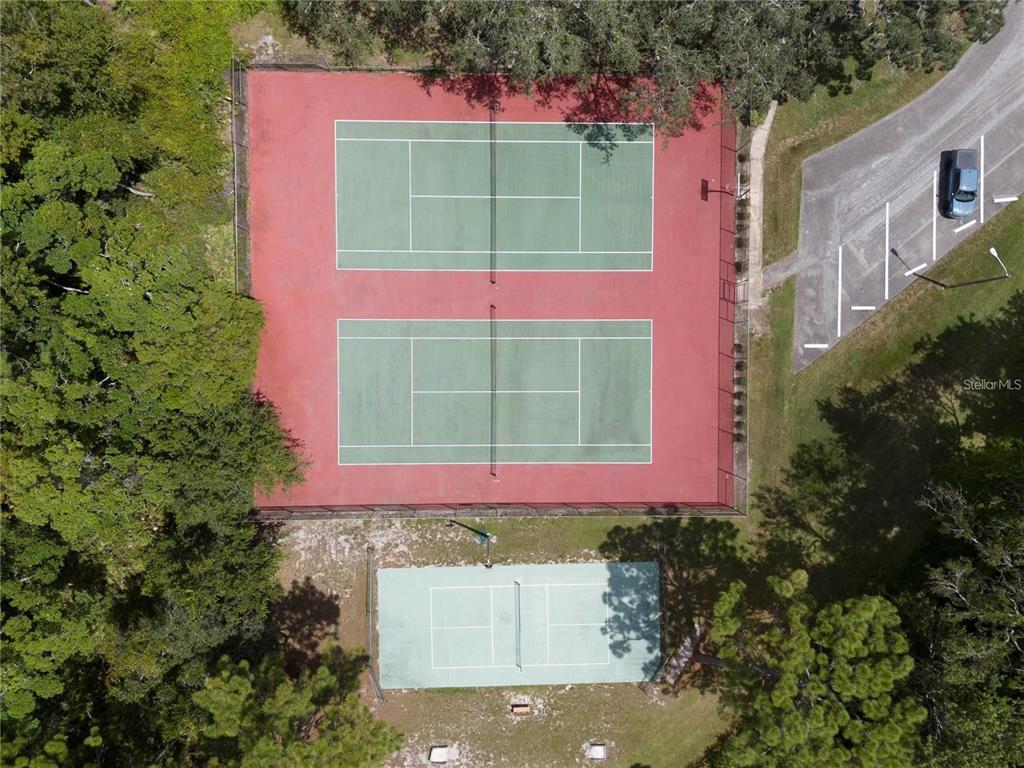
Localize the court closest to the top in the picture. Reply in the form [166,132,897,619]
[249,71,738,295]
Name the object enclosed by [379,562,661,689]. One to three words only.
sports court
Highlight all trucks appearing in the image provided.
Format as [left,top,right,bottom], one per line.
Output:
[942,148,977,218]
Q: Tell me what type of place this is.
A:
sports ground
